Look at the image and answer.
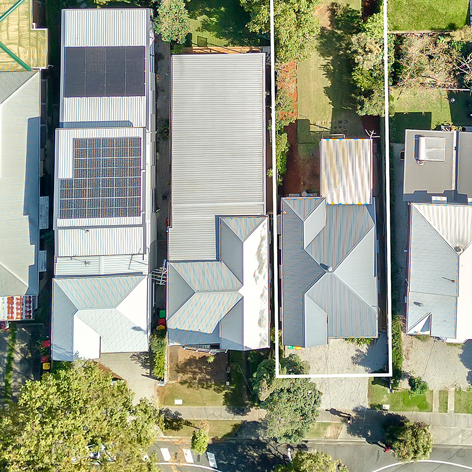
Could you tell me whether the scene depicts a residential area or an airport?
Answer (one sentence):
This looks like a residential area.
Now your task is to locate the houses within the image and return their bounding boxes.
[401,128,472,344]
[51,5,159,362]
[0,71,48,322]
[167,52,271,351]
[281,137,379,348]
